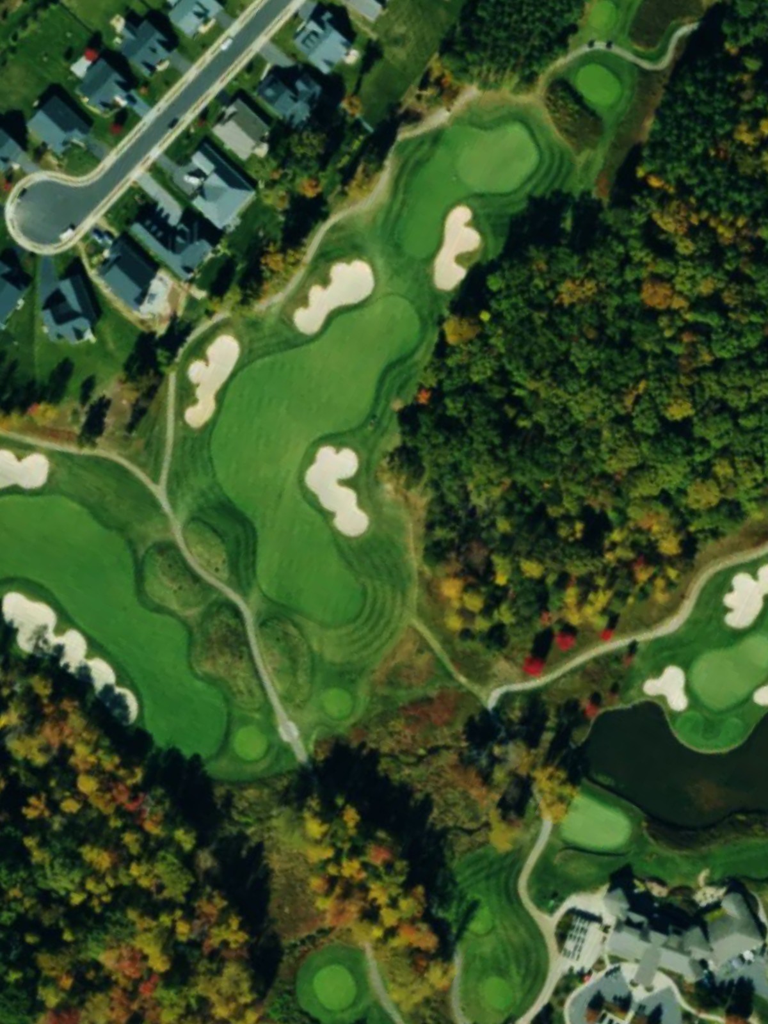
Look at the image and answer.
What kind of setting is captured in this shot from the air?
golf course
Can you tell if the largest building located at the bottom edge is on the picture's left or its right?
right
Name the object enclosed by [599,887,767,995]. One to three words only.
building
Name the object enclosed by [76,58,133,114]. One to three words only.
house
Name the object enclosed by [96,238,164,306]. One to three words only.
house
